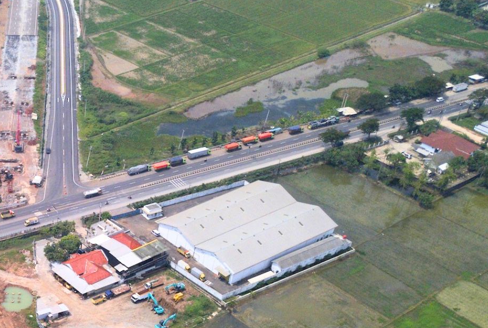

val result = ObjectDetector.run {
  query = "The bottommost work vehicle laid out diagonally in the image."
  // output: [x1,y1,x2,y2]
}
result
[153,312,175,328]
